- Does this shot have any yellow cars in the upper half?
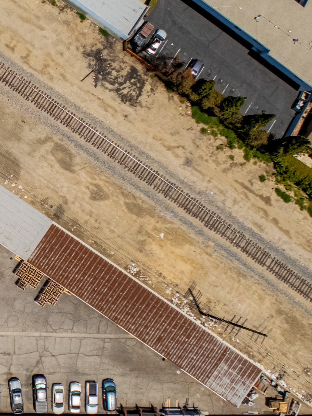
No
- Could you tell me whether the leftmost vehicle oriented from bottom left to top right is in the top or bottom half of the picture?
top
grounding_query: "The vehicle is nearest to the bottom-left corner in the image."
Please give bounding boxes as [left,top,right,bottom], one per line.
[9,378,24,414]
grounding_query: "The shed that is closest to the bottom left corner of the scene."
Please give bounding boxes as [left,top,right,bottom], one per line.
[27,223,263,408]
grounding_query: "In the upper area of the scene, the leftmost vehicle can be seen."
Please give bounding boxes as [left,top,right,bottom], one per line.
[131,17,157,50]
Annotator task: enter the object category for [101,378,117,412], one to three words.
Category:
car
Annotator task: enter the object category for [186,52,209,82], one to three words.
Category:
car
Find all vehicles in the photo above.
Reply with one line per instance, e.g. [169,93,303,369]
[33,373,48,414]
[69,381,83,413]
[131,17,157,50]
[51,382,65,414]
[85,379,100,414]
[101,378,117,412]
[144,27,169,57]
[186,52,209,82]
[9,378,24,414]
